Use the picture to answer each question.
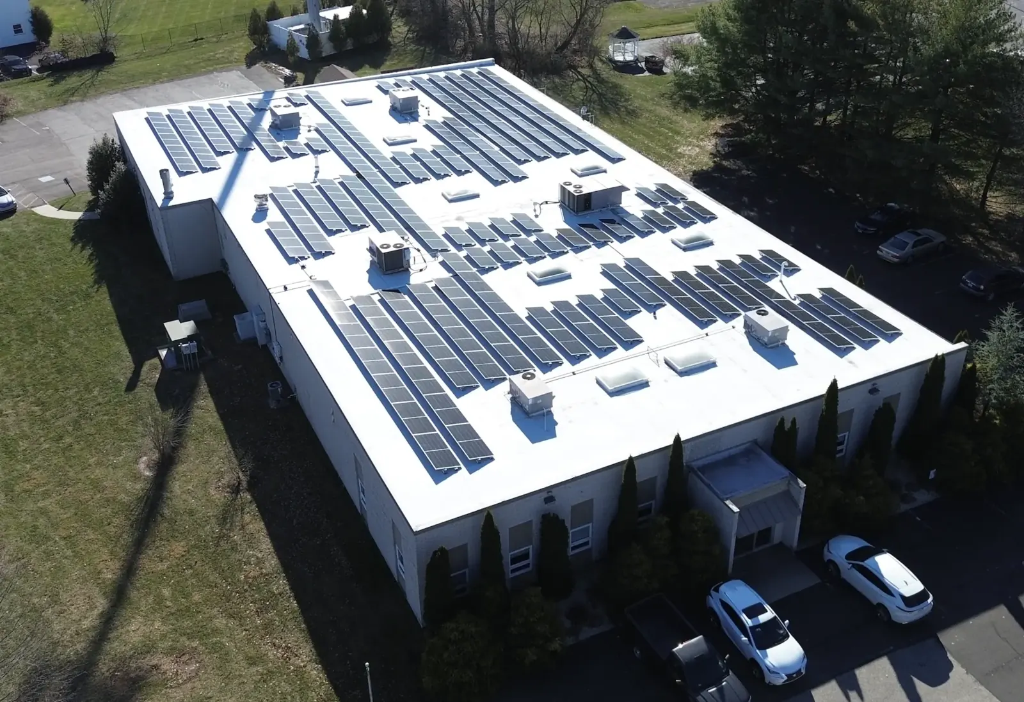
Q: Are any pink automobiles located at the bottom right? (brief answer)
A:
No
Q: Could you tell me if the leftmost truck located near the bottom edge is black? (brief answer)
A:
Yes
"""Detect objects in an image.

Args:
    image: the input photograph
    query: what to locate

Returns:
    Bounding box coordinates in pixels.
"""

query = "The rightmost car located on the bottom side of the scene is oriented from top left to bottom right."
[817,532,929,629]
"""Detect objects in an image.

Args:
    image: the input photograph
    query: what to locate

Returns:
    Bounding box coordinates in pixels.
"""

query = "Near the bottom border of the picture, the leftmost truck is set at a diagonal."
[619,582,744,702]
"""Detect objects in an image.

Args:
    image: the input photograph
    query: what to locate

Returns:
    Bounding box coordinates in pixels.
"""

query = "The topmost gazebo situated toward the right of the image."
[603,23,642,64]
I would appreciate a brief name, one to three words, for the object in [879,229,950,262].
car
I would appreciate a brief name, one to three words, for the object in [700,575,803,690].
car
